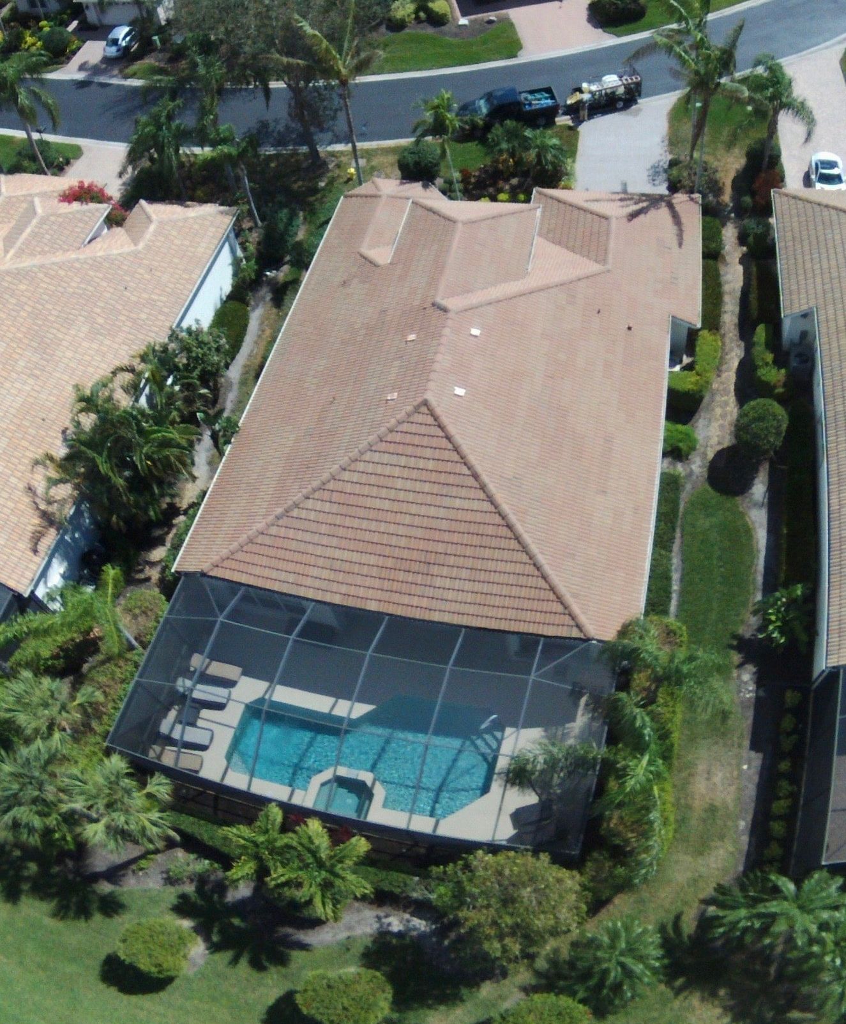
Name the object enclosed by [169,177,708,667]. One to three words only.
house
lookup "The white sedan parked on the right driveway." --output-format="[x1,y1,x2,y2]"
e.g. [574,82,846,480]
[803,147,846,197]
